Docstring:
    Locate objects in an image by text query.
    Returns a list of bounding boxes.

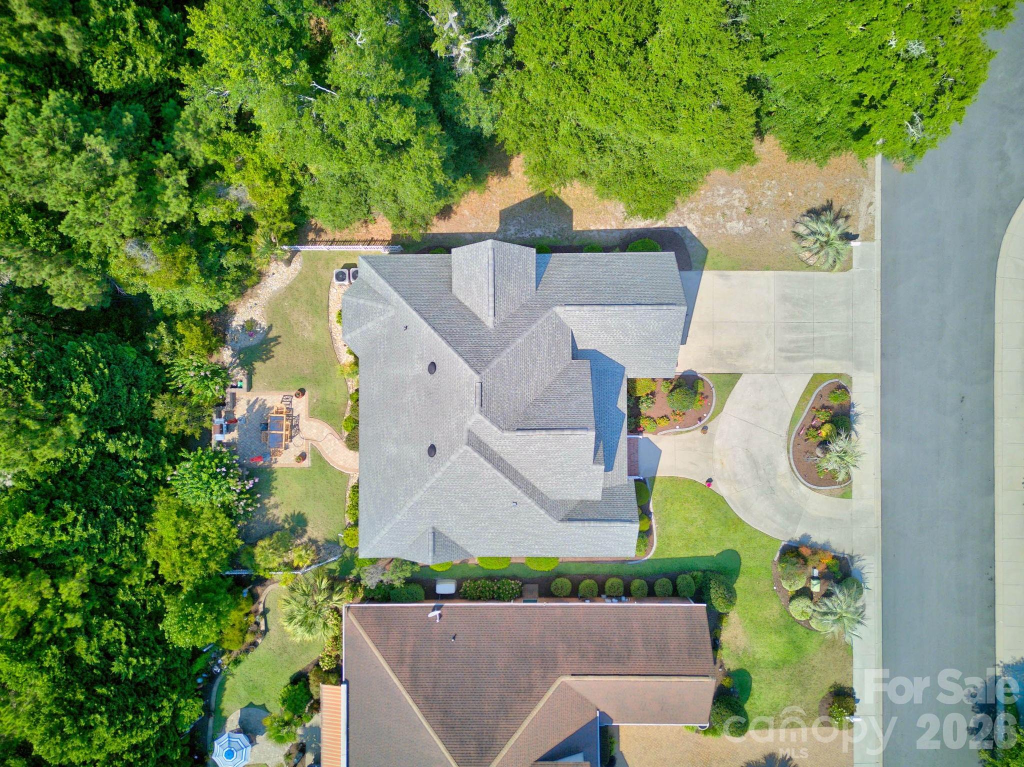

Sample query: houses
[341,241,687,566]
[342,596,716,767]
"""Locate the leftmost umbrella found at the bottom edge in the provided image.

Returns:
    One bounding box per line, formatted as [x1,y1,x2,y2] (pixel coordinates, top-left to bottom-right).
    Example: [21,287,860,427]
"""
[210,730,250,767]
